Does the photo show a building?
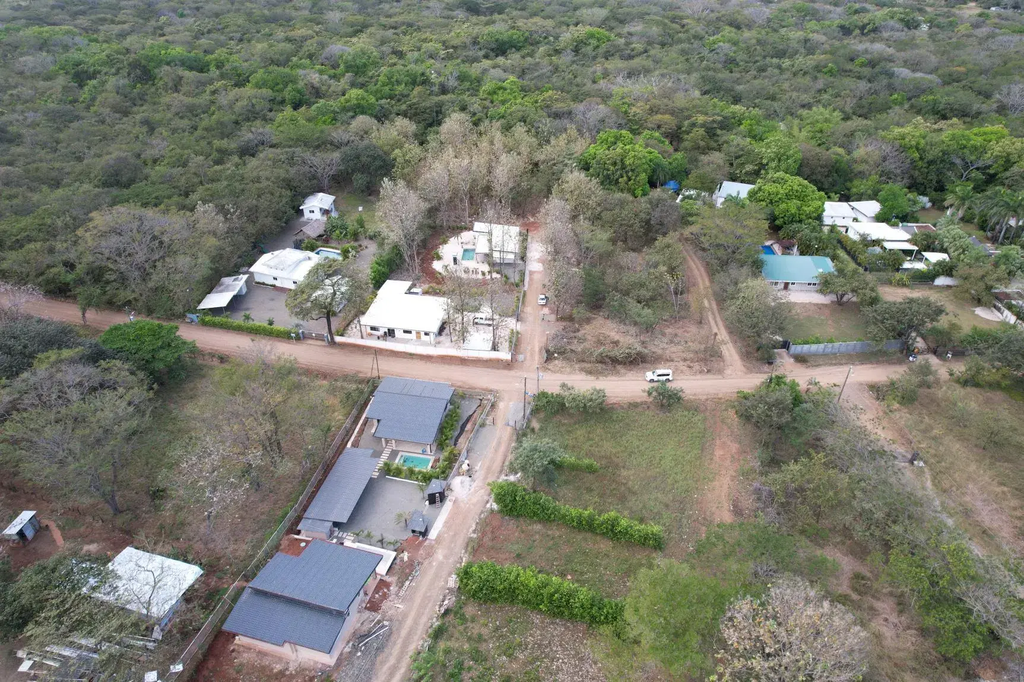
Yes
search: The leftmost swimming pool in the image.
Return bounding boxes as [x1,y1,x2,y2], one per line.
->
[314,248,342,264]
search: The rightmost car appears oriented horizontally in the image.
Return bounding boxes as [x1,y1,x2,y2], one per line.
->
[644,369,674,383]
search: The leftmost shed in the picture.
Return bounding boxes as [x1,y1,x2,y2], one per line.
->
[2,511,41,545]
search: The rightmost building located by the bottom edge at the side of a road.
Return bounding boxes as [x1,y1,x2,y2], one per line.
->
[221,539,384,666]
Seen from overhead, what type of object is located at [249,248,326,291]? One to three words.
house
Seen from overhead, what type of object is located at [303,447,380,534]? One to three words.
building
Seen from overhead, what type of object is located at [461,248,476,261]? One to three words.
swimming pool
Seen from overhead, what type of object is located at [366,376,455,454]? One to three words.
building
